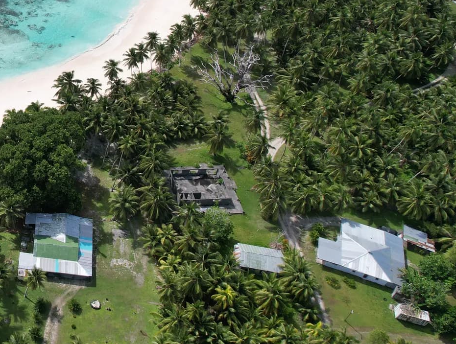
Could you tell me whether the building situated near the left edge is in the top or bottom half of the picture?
bottom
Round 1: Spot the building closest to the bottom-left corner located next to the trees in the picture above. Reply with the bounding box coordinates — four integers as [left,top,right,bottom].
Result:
[18,214,93,282]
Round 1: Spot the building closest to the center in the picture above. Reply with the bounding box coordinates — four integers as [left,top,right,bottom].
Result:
[166,163,244,215]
